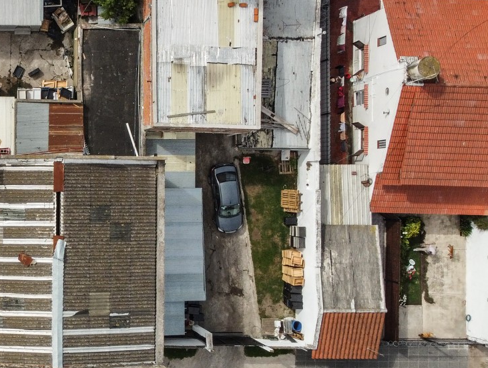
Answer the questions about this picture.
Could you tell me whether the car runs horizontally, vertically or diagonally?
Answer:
vertically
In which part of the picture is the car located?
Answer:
center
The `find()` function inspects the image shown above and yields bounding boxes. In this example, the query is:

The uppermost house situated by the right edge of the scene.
[353,0,488,214]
